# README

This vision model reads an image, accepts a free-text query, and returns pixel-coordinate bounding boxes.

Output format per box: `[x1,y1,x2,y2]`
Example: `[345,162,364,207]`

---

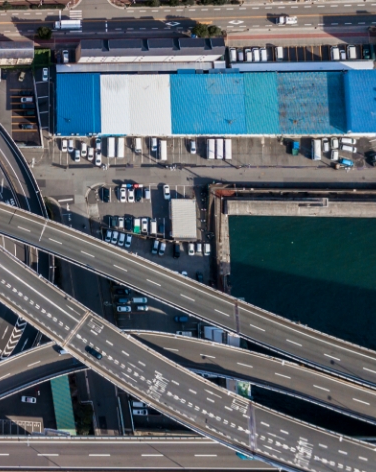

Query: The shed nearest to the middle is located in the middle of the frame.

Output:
[168,199,197,238]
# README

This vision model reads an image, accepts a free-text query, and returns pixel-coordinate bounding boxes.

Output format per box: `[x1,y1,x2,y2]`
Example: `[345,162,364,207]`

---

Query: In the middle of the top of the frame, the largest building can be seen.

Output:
[53,66,343,144]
